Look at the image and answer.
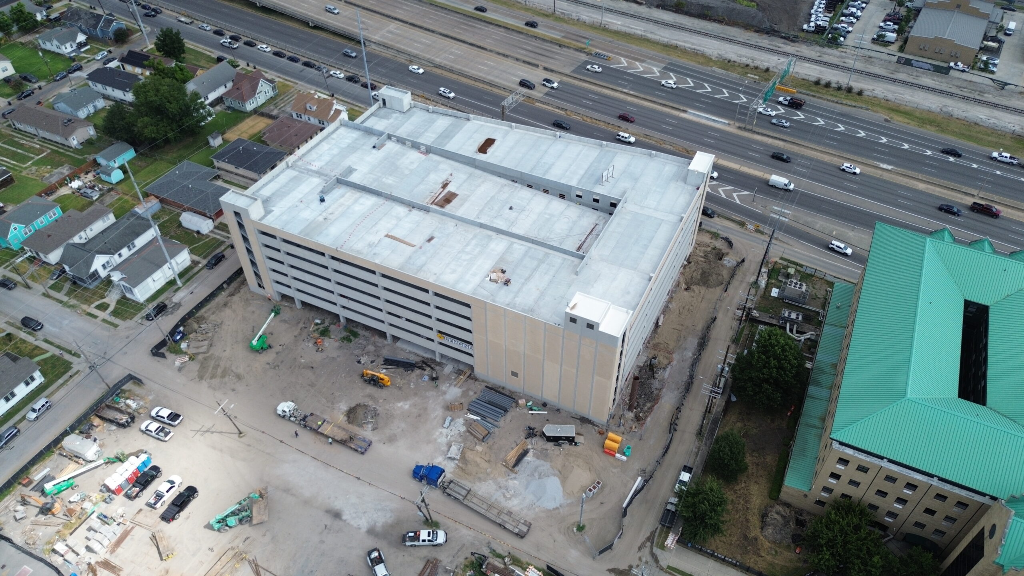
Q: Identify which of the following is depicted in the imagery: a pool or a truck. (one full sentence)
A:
This aerial view contains a truck.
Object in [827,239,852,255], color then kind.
white car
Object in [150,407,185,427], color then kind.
white vehicle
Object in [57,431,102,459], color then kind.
white trailer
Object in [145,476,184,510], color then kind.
white truck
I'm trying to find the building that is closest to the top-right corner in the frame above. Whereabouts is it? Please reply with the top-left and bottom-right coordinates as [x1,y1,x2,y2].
[893,0,1009,66]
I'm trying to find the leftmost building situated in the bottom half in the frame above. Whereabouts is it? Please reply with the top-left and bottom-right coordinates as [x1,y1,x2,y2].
[0,351,45,419]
